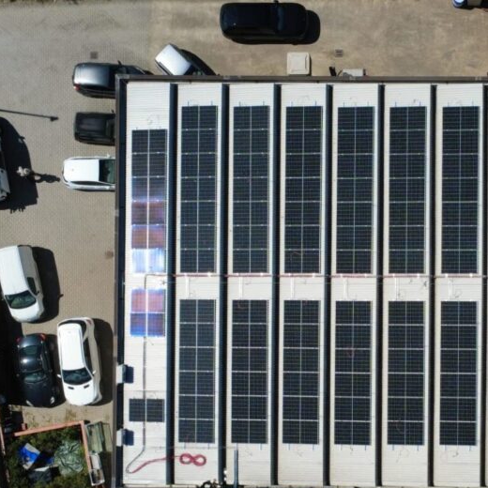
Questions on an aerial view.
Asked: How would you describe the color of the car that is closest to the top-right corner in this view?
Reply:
black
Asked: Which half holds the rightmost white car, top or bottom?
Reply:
top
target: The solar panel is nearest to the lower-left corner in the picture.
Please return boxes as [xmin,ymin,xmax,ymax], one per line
[130,396,165,420]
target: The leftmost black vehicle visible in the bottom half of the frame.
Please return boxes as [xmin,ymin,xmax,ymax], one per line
[16,331,58,409]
